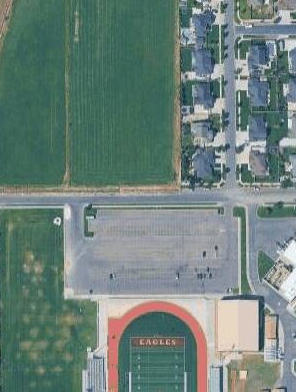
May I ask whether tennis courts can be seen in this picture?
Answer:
No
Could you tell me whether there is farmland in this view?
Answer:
Yes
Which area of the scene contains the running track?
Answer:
bottom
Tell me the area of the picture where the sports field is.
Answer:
bottom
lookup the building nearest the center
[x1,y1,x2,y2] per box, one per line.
[192,150,215,178]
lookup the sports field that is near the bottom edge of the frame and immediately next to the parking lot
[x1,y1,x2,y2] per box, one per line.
[118,313,196,392]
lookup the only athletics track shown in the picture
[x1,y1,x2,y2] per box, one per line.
[107,301,207,392]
